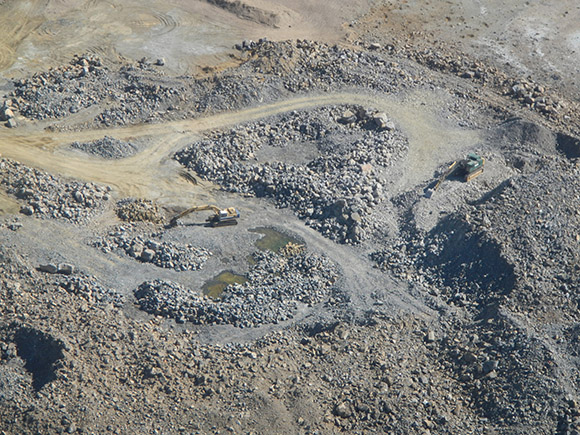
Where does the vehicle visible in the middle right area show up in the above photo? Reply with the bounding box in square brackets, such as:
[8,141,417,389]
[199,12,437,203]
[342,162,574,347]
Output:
[427,155,483,194]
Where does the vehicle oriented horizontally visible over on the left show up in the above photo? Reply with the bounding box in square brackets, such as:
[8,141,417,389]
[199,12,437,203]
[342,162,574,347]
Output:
[171,204,240,228]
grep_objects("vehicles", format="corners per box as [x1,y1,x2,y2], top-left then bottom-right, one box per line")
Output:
[427,155,483,194]
[171,204,240,228]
